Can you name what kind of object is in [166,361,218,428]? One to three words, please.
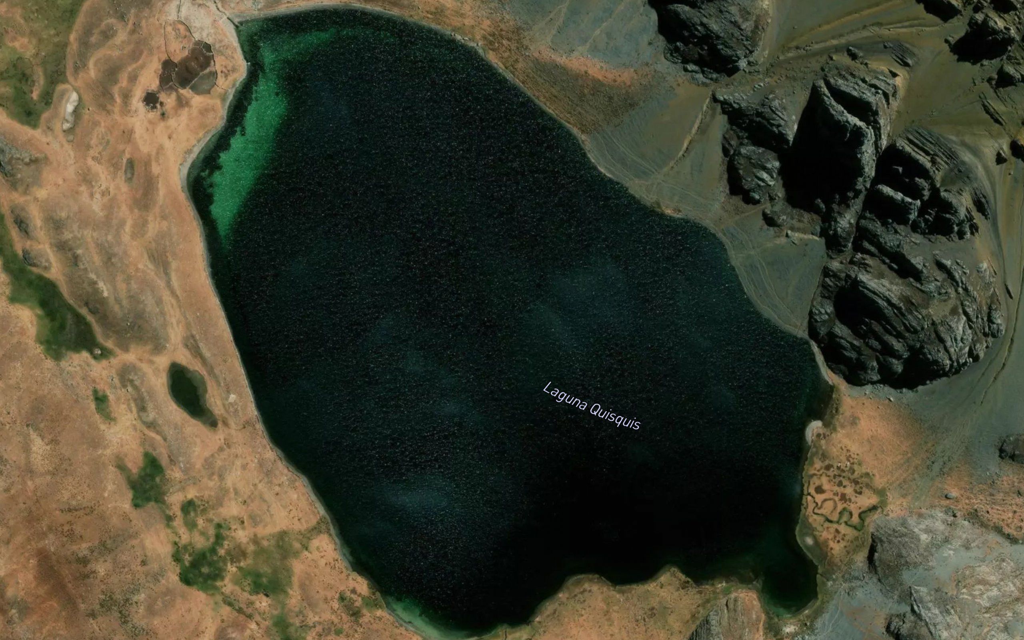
pond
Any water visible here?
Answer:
Yes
